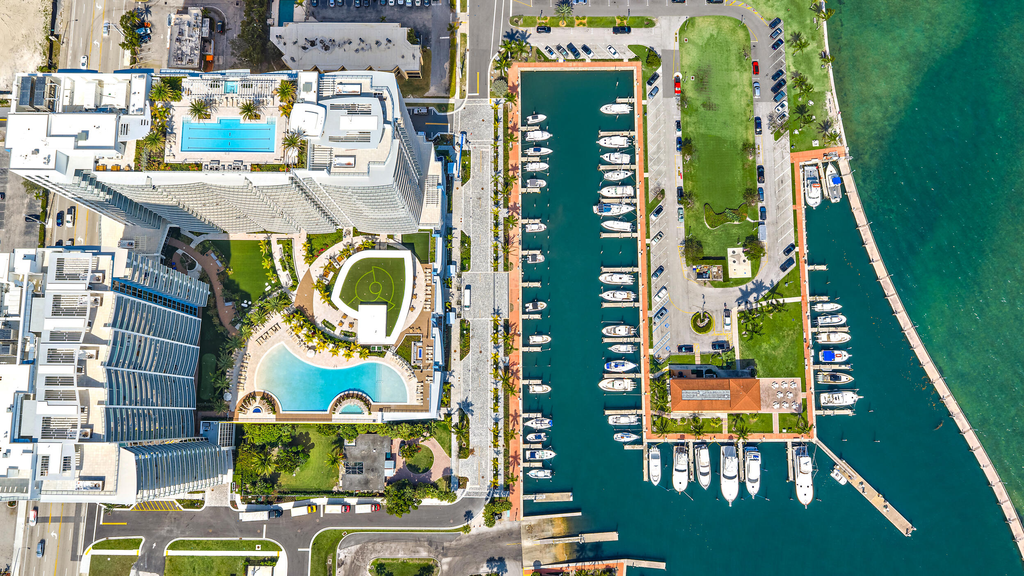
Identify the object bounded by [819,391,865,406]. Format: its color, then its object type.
white boat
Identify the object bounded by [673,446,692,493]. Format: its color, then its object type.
white boat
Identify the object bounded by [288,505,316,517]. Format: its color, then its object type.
white vehicle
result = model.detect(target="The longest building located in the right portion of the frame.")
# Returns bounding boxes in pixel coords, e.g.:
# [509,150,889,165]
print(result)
[670,374,761,412]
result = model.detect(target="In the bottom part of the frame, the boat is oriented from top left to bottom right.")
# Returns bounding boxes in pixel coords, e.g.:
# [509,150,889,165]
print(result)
[830,469,847,485]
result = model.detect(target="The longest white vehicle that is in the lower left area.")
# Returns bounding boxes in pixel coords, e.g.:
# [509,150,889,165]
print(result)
[236,509,282,521]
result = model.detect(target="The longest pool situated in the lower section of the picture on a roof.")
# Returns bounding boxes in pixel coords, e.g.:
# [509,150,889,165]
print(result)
[254,342,409,412]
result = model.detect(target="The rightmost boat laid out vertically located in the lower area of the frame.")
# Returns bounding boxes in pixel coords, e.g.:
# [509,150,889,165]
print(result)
[793,446,817,510]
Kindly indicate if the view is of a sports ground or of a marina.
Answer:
marina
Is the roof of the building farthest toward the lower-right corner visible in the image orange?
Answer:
Yes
